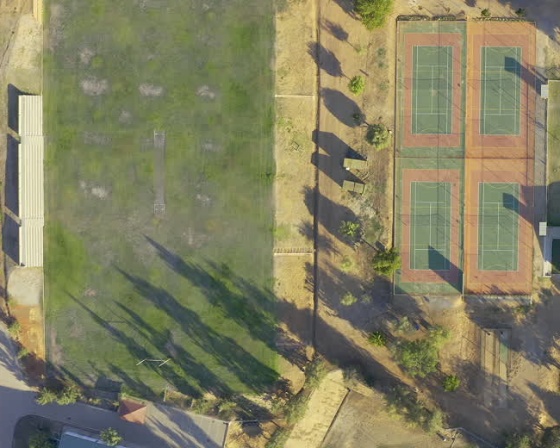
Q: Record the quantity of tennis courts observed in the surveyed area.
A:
4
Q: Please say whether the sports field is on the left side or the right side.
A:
left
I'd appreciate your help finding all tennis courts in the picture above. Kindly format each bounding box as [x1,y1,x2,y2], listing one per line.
[395,158,465,295]
[466,22,536,158]
[397,22,466,158]
[465,158,534,295]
